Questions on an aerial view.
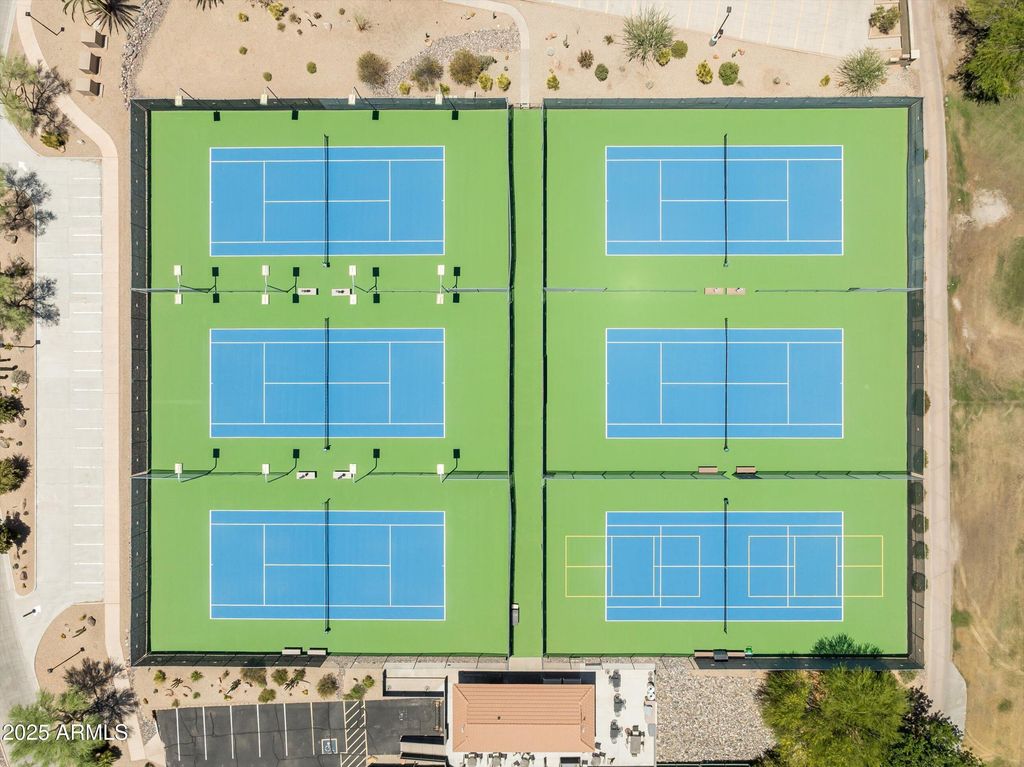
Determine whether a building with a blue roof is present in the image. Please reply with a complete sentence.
No, I can't see a single building with a blue roof in this photo.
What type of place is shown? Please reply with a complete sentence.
The picture captures a sports ground.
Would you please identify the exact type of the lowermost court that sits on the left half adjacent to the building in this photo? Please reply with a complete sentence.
Specifically, the lowermost court that sits on the left half adjacent to the building is a tennis court.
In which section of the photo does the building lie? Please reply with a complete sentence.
The building sits in the bottom section of the image.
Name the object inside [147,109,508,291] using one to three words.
tennis court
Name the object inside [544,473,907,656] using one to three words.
tennis court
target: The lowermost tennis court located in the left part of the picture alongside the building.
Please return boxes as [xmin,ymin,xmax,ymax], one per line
[147,473,508,656]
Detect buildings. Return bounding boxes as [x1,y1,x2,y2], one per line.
[452,673,595,753]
